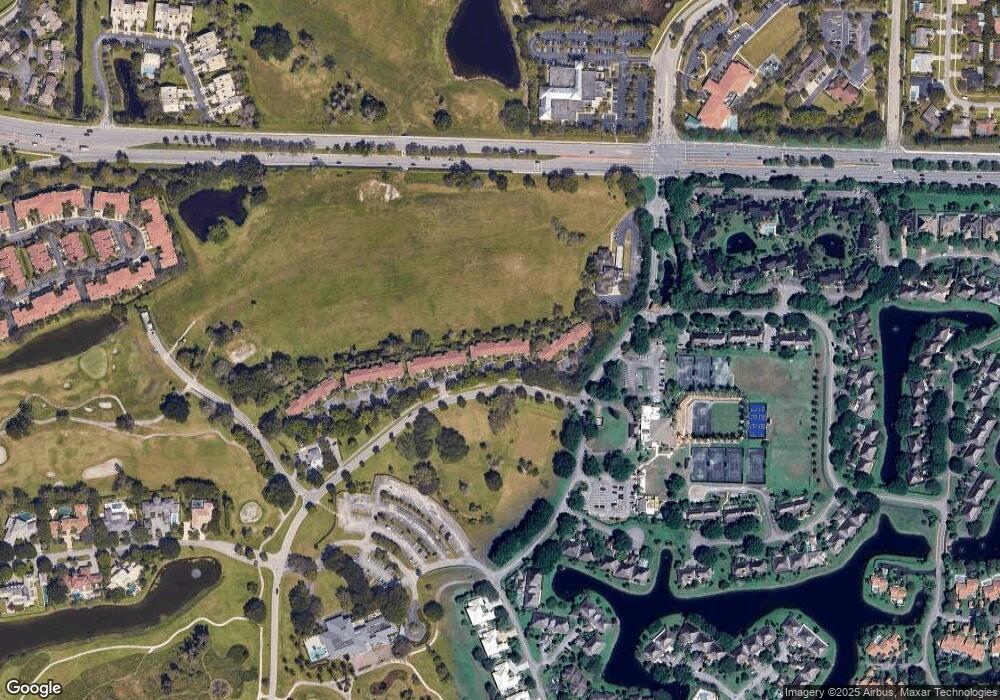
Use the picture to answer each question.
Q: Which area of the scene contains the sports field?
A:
right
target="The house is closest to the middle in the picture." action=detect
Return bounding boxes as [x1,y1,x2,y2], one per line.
[470,340,531,359]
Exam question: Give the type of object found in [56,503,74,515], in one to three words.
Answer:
swimming pool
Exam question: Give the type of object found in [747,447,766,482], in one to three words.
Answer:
tennis court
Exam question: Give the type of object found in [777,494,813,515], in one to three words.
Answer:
building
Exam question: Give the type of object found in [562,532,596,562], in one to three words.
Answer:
house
